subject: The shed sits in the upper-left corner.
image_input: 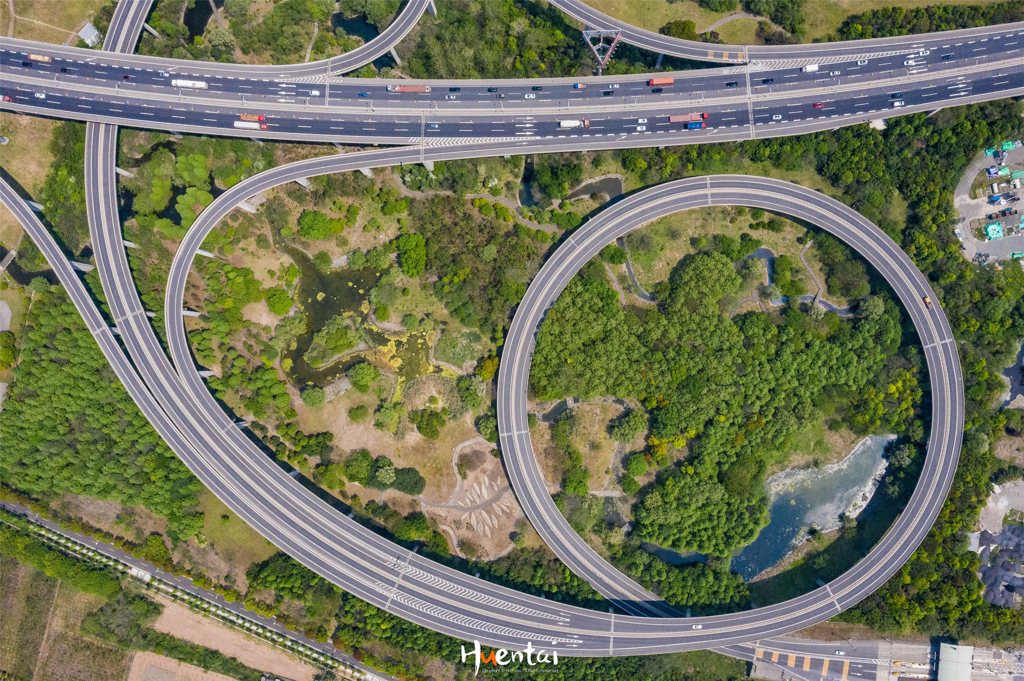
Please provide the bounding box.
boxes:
[78,22,105,49]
